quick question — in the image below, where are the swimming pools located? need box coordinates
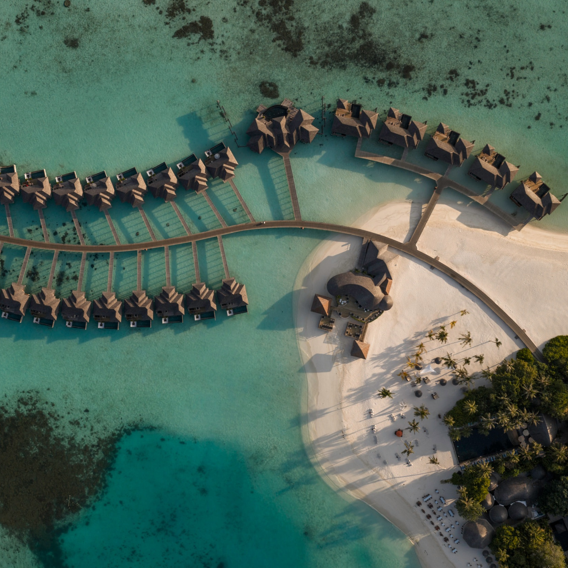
[489,153,504,169]
[8,310,23,321]
[348,104,360,119]
[136,318,151,326]
[201,310,215,319]
[183,155,198,168]
[397,113,410,129]
[123,168,138,180]
[40,316,54,326]
[92,172,107,183]
[445,130,459,147]
[233,304,248,314]
[72,319,87,328]
[533,182,549,198]
[1,166,15,175]
[104,320,118,328]
[153,163,168,176]
[62,172,77,183]
[31,170,45,180]
[169,314,183,322]
[211,143,227,156]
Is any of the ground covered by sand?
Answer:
Yes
